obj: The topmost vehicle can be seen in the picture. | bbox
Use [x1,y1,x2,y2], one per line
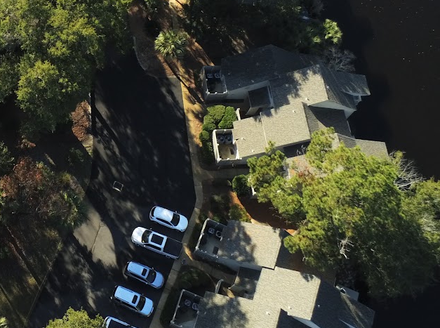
[147,205,190,234]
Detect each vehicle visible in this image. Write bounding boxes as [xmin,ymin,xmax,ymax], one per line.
[129,226,183,260]
[122,258,166,290]
[109,285,155,317]
[147,205,190,234]
[101,315,138,328]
